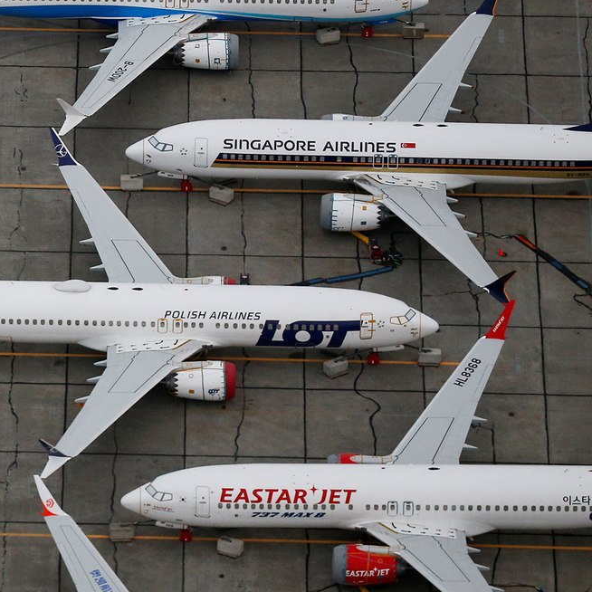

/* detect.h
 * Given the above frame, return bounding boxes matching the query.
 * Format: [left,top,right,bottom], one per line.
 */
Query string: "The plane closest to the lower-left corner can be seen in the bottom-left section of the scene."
[32,474,123,592]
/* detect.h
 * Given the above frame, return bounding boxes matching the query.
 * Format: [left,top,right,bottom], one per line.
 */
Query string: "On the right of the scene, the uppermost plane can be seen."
[127,0,592,306]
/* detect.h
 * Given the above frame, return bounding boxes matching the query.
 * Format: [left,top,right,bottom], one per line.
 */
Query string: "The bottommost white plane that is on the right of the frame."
[120,299,592,592]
